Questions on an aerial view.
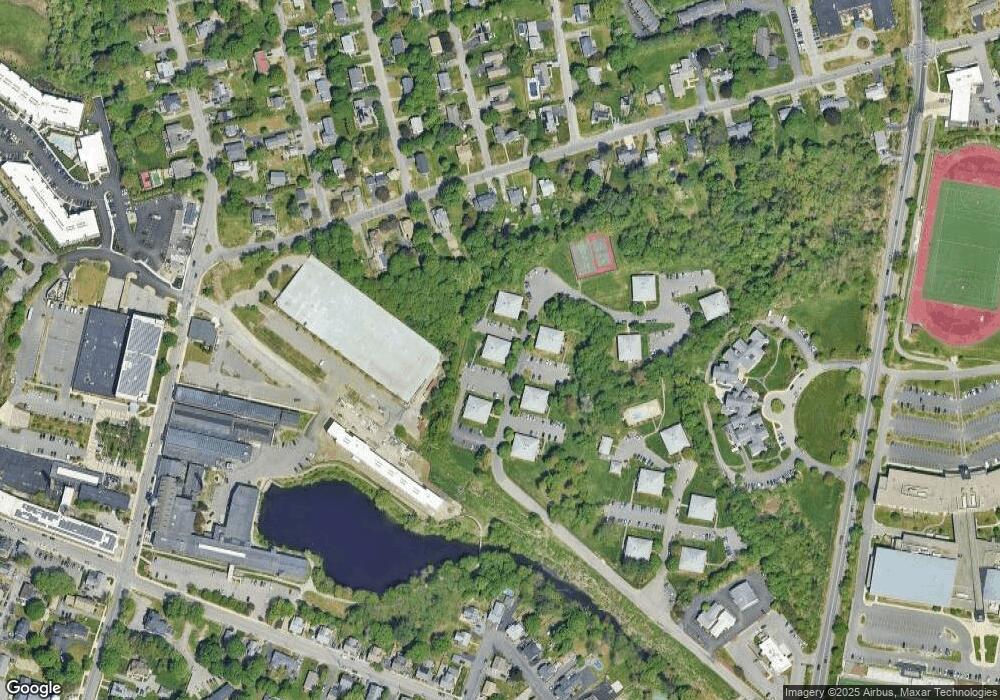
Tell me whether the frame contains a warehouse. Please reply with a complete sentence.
Yes, a warehouse is visible in the scene.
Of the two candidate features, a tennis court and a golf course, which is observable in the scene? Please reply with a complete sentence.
There is a tennis court in the scene.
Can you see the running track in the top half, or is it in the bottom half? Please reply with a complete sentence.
It is in the top half that the running track appears.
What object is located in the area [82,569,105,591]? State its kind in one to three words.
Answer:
house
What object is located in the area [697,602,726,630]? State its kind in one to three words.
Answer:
building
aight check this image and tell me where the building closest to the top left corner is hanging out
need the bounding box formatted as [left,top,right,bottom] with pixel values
[0,62,86,134]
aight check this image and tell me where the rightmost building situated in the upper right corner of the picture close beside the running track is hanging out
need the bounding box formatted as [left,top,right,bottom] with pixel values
[946,66,982,123]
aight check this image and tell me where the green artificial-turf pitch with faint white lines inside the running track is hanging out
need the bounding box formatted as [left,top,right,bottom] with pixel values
[923,181,1000,310]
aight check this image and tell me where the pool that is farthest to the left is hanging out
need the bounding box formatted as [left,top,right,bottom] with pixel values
[49,131,78,158]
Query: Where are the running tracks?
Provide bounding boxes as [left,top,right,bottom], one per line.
[913,144,1000,346]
